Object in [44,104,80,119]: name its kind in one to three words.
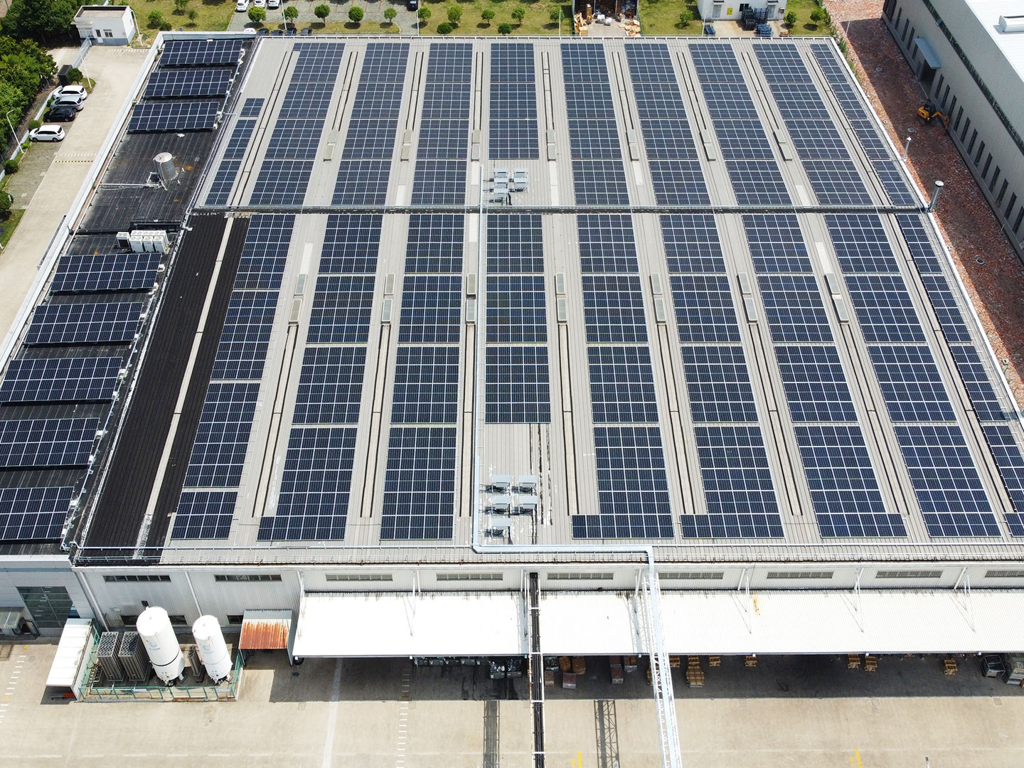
car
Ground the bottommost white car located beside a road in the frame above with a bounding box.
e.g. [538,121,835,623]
[32,124,69,140]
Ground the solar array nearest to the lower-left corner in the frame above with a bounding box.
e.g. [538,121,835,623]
[0,487,72,538]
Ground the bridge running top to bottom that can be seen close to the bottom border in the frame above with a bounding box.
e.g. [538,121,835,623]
[642,577,685,768]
